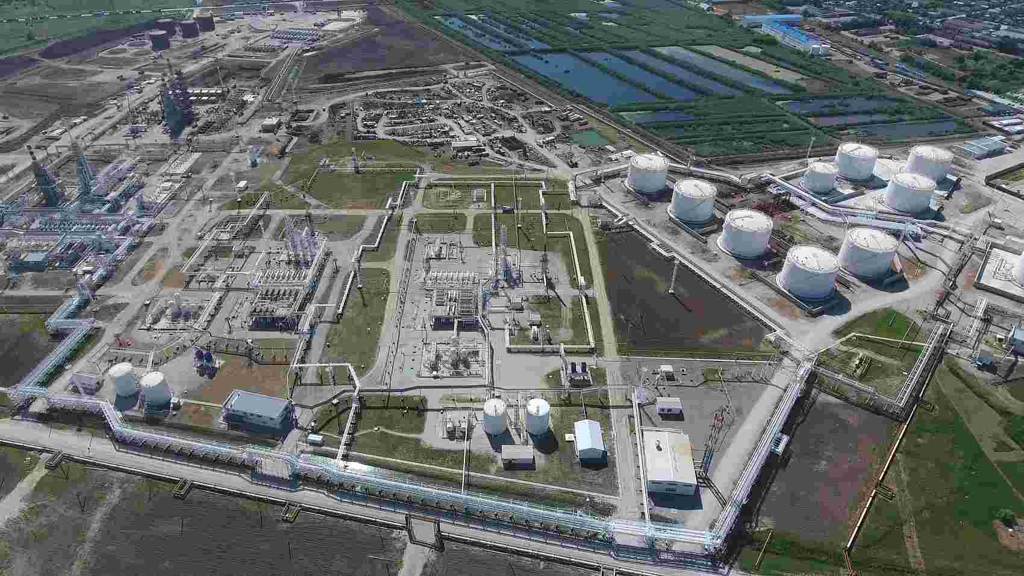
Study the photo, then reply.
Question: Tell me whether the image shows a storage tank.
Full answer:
Yes, a storage tank can be made out from above.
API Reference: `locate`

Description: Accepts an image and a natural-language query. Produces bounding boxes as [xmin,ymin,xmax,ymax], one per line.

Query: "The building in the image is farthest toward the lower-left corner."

[65,365,110,395]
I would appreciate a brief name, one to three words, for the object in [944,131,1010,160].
building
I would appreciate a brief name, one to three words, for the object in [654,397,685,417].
shed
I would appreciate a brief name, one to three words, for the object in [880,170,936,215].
storage tank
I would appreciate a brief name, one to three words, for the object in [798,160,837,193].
storage tank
